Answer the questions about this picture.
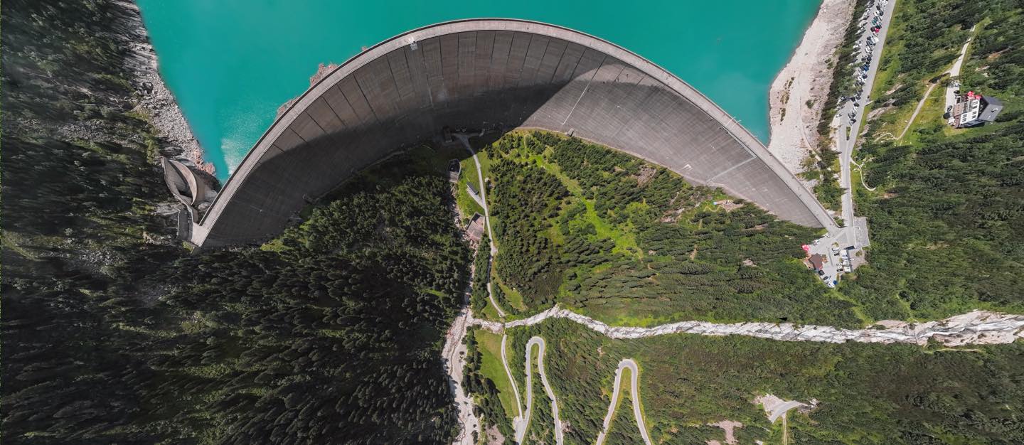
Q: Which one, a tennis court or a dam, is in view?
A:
dam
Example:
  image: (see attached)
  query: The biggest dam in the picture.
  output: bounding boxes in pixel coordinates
[185,17,832,247]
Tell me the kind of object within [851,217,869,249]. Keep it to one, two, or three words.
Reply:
building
